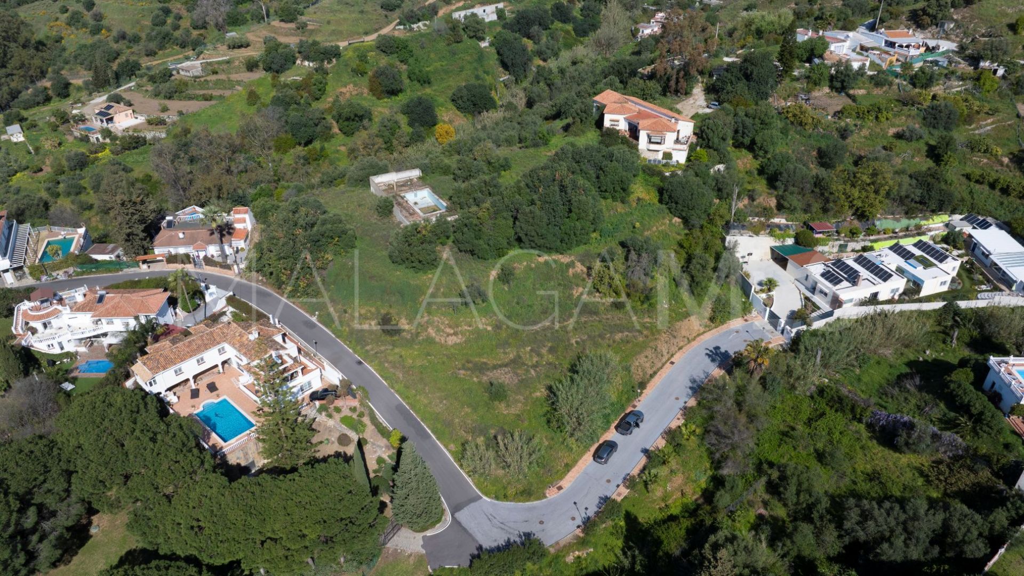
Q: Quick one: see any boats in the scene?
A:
No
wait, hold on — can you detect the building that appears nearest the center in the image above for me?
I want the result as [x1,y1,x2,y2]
[370,174,423,200]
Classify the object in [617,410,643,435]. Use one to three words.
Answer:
truck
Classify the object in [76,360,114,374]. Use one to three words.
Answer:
swimming pool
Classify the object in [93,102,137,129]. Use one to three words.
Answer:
house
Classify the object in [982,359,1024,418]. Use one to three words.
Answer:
building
